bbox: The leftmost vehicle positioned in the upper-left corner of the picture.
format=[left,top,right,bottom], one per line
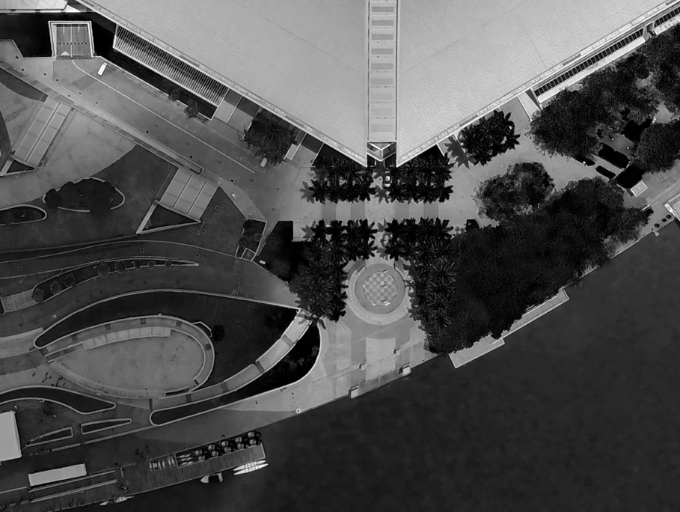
[96,61,109,77]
